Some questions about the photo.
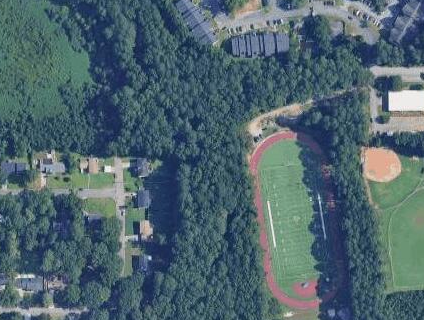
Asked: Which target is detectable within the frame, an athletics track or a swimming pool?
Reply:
athletics track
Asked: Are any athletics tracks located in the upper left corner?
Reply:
No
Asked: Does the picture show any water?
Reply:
No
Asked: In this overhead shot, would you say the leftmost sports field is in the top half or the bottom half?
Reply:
bottom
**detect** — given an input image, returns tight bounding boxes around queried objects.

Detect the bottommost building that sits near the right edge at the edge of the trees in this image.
[390,90,424,112]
